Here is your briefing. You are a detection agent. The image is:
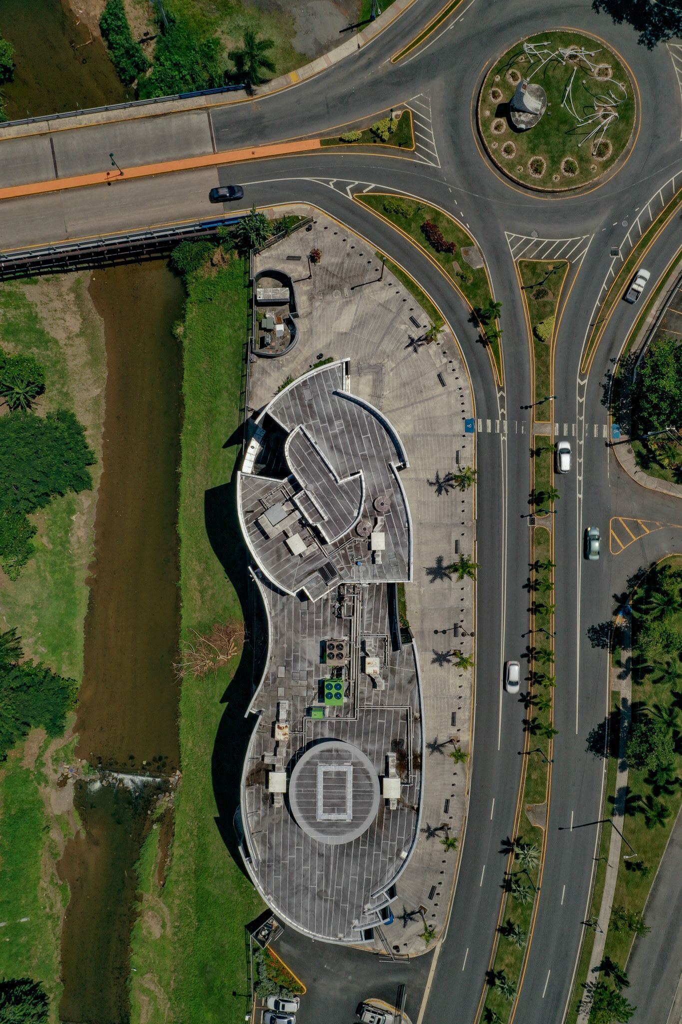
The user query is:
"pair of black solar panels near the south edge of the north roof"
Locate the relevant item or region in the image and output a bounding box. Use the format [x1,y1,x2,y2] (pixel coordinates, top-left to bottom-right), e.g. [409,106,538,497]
[317,562,338,582]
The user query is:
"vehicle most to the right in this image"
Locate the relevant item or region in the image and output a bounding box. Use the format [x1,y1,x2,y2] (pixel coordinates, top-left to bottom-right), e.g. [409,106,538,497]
[622,268,650,308]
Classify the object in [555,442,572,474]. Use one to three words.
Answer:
car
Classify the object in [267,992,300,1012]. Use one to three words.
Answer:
car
